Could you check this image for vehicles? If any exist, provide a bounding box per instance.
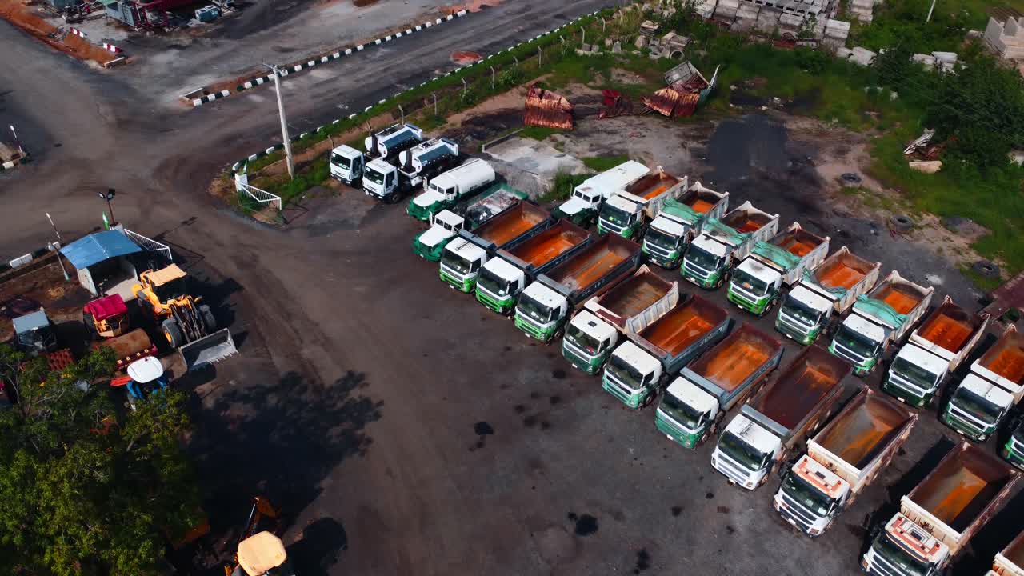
[597,164,689,242]
[406,158,498,226]
[602,294,728,408]
[363,134,460,201]
[775,390,915,533]
[330,120,424,185]
[641,182,733,267]
[79,295,156,369]
[120,262,244,374]
[128,361,181,424]
[726,222,830,314]
[654,325,782,447]
[223,501,292,576]
[883,296,991,408]
[560,265,680,374]
[438,202,550,293]
[712,345,855,489]
[942,324,1024,443]
[829,269,935,374]
[681,200,780,289]
[556,160,653,230]
[865,442,1018,576]
[474,219,588,314]
[775,246,881,345]
[412,187,523,265]
[12,307,92,379]
[513,233,642,341]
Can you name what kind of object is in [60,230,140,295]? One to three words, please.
shed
